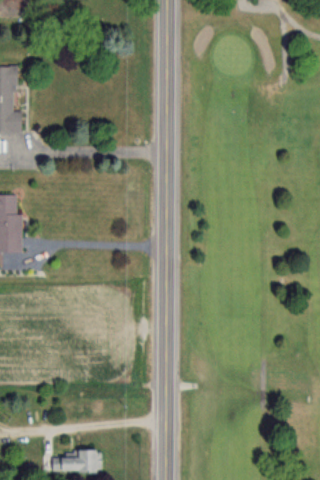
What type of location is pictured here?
golf course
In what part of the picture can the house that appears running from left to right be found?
bottom left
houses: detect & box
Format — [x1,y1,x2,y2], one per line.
[52,451,104,475]
[0,66,22,134]
[0,194,24,268]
